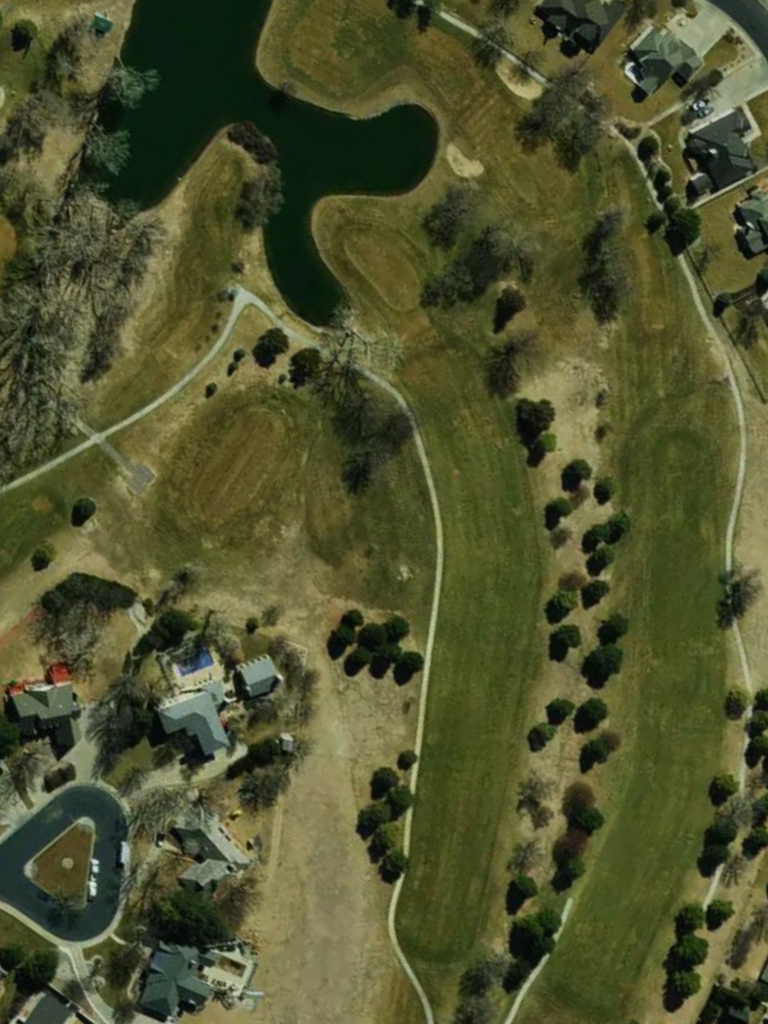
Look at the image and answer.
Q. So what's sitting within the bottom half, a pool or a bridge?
pool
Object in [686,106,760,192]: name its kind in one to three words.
house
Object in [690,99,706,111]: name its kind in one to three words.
vehicle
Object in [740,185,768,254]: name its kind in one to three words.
house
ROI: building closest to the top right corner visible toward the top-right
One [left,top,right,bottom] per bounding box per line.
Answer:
[632,28,702,94]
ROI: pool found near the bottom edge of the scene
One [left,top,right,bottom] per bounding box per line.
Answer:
[216,954,248,978]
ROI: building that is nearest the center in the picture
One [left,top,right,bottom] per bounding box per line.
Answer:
[239,654,279,697]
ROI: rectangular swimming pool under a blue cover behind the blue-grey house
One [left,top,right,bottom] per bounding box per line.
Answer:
[176,646,215,678]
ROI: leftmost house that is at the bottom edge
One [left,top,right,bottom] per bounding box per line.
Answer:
[23,987,74,1024]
